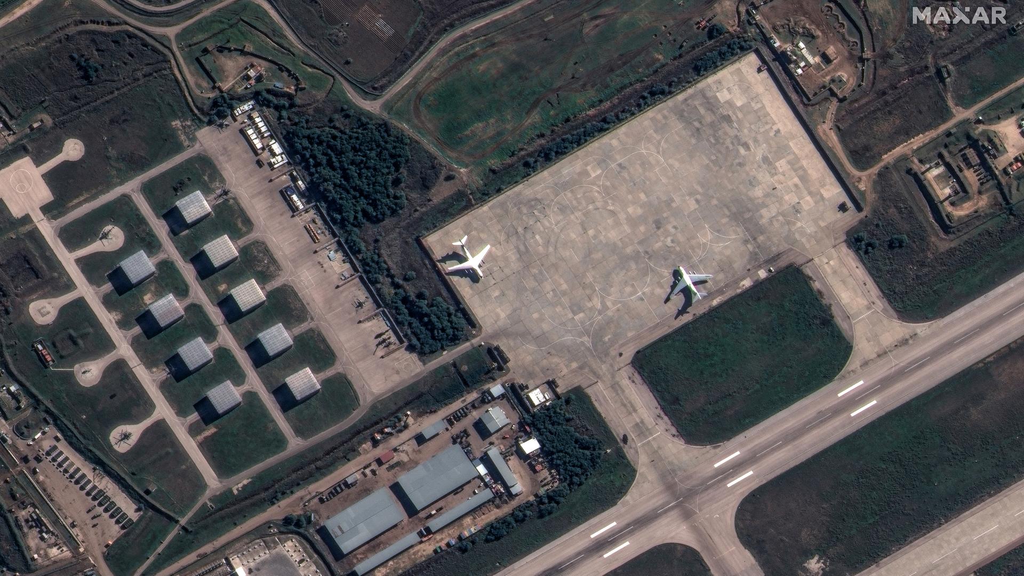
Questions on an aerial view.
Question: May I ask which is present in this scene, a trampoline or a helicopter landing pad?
helicopter landing pad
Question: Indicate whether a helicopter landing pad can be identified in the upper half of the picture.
Yes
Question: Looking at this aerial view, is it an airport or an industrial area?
airport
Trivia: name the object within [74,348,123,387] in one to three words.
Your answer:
helipad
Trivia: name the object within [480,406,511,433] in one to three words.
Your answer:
building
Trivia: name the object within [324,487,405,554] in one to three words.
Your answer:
building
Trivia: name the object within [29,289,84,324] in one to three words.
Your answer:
helipad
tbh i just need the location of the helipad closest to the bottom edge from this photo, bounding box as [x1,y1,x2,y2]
[109,406,164,452]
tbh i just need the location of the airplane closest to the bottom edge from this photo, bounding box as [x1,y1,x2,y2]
[674,266,714,306]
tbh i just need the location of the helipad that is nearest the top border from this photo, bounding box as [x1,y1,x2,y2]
[38,139,84,175]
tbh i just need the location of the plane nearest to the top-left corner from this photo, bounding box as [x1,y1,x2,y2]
[449,236,489,279]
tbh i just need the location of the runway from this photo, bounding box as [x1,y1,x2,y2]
[490,273,1024,576]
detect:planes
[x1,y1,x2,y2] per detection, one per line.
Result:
[449,236,489,279]
[674,266,714,306]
